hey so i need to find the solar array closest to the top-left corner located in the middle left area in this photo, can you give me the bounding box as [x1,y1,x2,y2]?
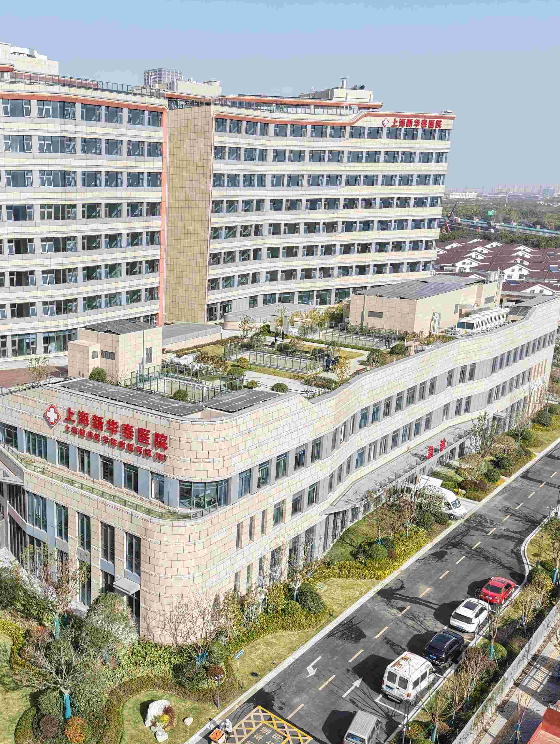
[78,309,164,338]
